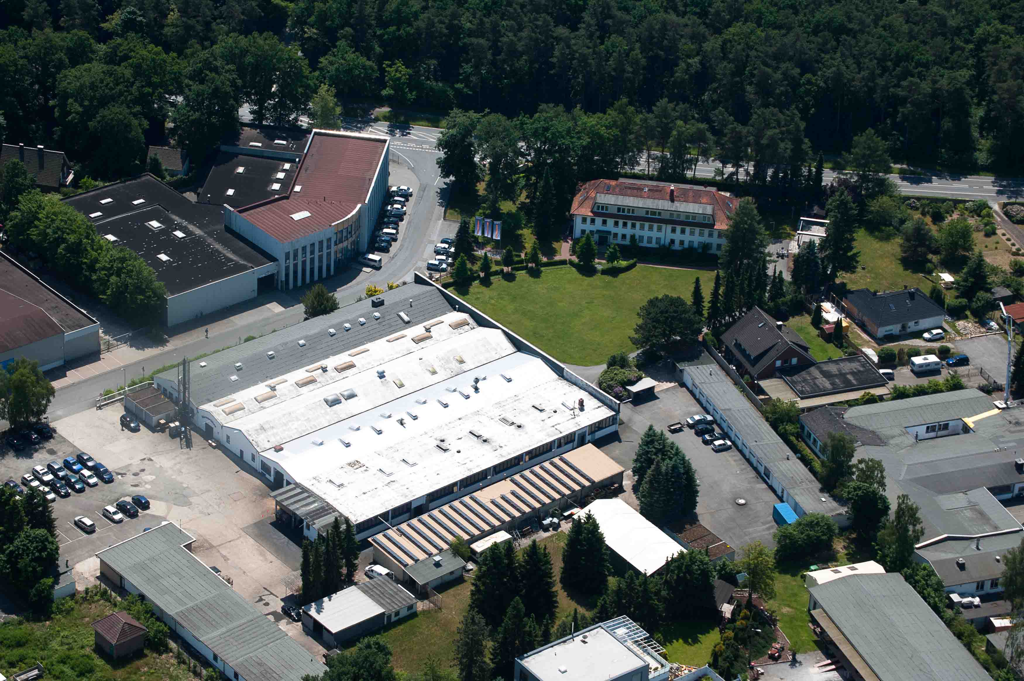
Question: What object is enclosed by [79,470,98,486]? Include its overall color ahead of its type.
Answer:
white car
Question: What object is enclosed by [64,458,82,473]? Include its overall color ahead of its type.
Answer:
blue car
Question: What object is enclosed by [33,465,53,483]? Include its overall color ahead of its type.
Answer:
white car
